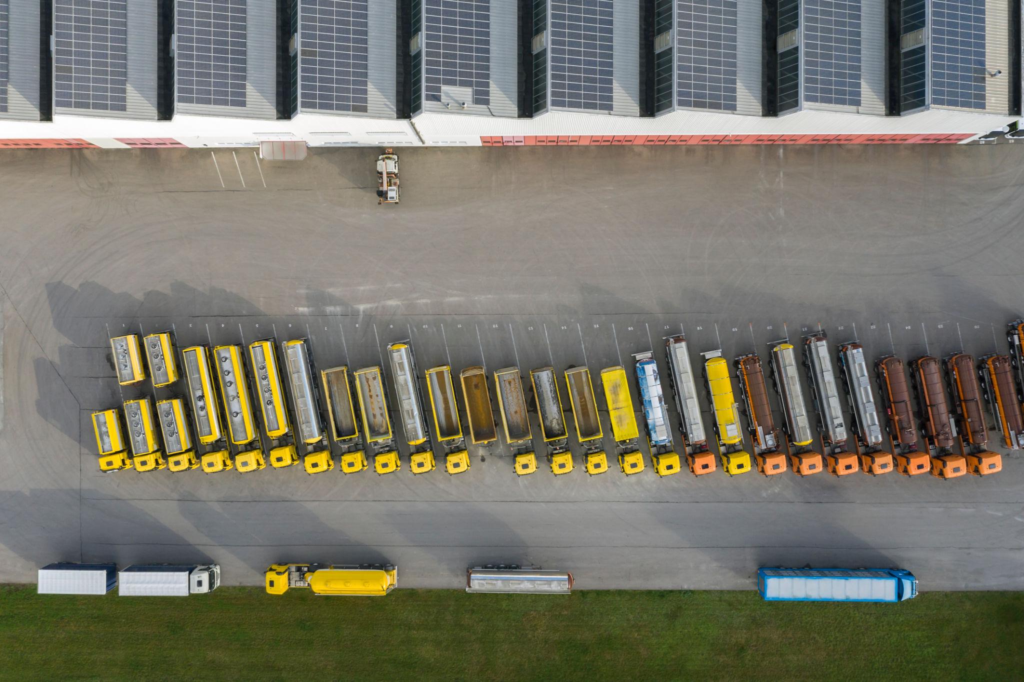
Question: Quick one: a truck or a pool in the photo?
truck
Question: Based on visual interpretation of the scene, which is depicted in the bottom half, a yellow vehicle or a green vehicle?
yellow vehicle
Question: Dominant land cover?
paved ground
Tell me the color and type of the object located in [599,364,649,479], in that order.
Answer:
yellow truck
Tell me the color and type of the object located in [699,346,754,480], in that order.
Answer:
yellow truck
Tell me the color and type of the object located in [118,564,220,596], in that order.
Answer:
white truck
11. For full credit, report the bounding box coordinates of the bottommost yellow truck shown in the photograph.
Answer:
[261,564,397,596]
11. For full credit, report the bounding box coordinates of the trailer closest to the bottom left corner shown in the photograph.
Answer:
[38,562,121,594]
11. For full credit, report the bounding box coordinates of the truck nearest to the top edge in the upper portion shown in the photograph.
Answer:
[373,148,402,207]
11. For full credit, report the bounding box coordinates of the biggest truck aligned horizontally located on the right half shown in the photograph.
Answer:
[758,568,918,602]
